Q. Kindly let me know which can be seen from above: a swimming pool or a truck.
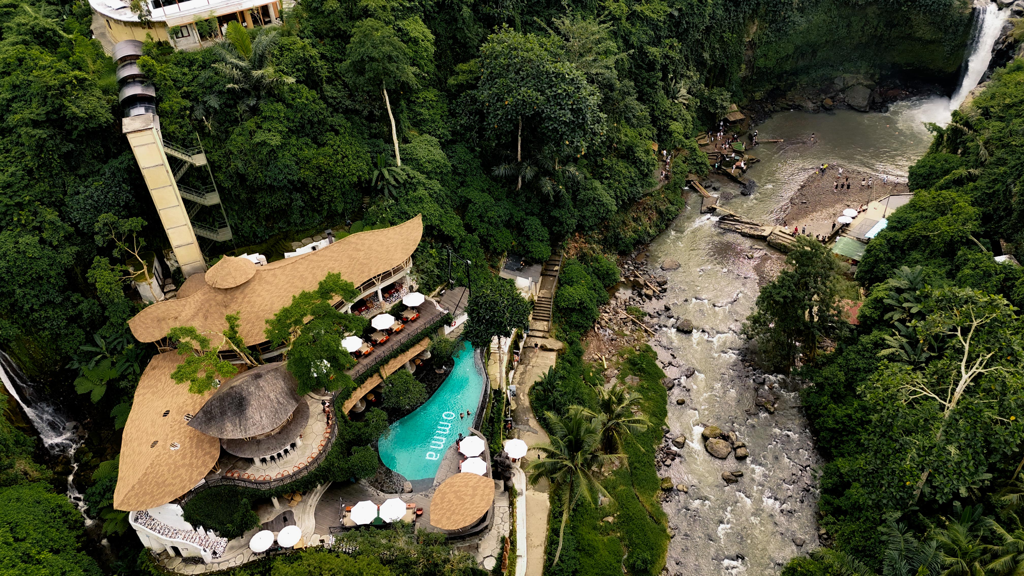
swimming pool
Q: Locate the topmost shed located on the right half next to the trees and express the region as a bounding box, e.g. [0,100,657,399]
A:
[722,104,746,133]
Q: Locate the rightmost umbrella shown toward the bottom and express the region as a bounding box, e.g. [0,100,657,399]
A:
[503,439,528,461]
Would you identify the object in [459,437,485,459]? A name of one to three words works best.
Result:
umbrella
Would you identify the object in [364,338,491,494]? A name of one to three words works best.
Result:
swimming pool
